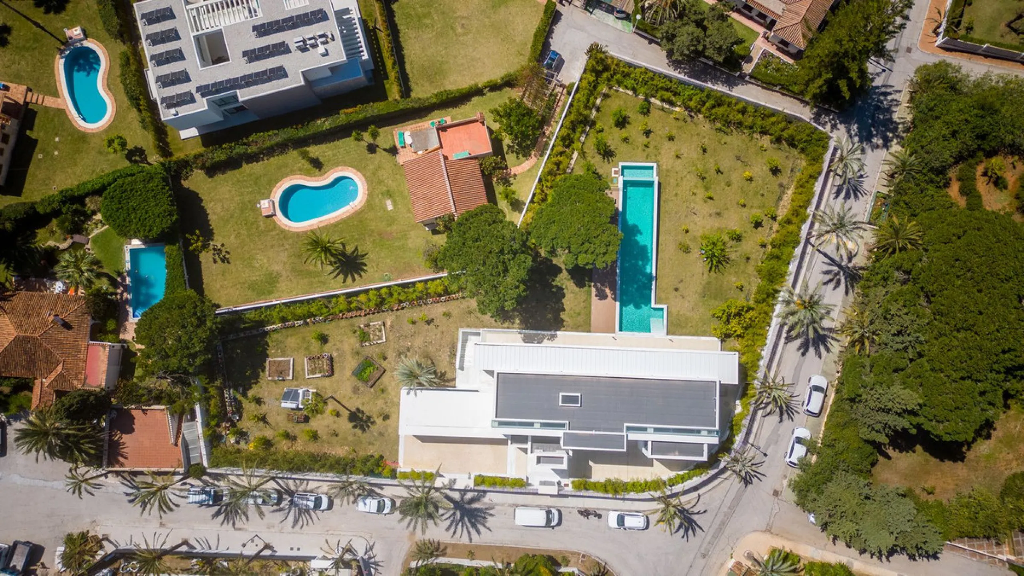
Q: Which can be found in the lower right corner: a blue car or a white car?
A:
white car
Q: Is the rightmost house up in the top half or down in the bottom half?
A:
top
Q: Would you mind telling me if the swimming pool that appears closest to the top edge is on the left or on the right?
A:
left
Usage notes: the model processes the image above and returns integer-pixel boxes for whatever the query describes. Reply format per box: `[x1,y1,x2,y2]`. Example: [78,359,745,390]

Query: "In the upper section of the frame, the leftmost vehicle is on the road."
[540,45,562,77]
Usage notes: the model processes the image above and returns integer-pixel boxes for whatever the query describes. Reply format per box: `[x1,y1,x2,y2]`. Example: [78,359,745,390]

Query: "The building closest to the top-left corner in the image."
[66,28,87,47]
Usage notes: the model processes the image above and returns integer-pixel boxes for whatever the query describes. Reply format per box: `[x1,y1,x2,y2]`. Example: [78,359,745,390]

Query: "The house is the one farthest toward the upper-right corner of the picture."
[711,0,837,75]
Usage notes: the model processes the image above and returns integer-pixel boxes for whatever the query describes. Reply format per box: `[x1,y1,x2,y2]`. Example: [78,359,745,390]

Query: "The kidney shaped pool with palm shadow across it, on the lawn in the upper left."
[55,37,117,133]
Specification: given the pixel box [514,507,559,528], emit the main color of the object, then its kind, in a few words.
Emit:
white vehicle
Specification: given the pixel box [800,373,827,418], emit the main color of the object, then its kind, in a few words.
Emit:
white car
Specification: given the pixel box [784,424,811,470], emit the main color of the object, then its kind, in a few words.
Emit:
white car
